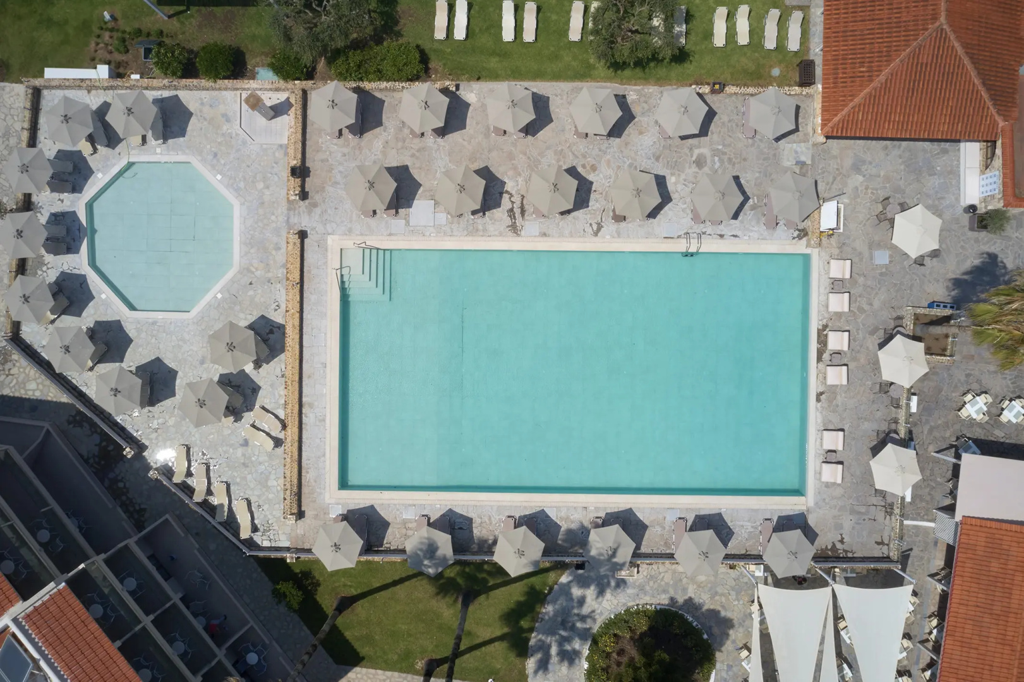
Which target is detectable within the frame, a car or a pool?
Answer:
pool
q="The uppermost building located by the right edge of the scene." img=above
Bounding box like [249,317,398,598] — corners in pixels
[815,0,1022,142]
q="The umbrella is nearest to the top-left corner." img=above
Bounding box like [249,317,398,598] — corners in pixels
[46,93,96,147]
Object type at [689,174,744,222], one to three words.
umbrella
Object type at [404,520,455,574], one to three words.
umbrella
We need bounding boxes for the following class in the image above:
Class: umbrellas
[310,82,360,136]
[569,86,623,136]
[3,146,61,194]
[689,174,744,222]
[768,171,820,224]
[45,324,99,372]
[311,519,364,571]
[46,93,96,147]
[404,520,455,574]
[107,89,160,139]
[761,527,815,578]
[0,212,56,261]
[5,275,61,324]
[180,376,233,428]
[582,522,636,574]
[869,439,921,492]
[345,163,399,213]
[889,205,941,259]
[655,88,709,138]
[210,319,259,374]
[746,87,794,142]
[675,528,729,578]
[610,169,663,221]
[435,164,487,217]
[527,163,579,217]
[492,524,545,577]
[97,364,147,419]
[400,80,452,134]
[876,331,928,385]
[486,81,537,135]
